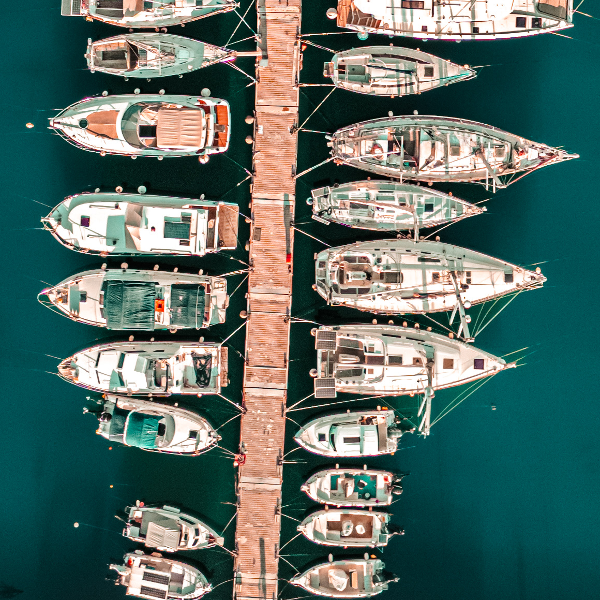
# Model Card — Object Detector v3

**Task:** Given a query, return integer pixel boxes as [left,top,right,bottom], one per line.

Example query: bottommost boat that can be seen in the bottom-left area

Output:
[110,554,212,600]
